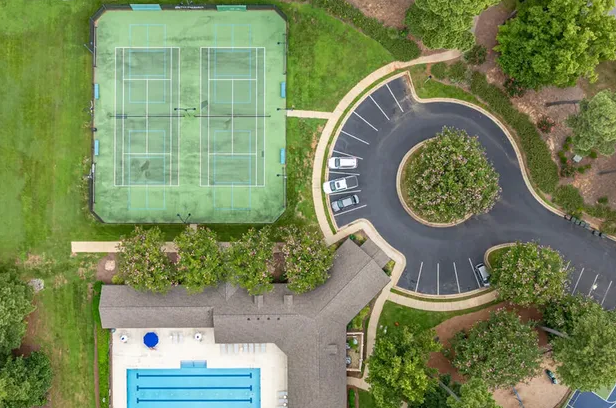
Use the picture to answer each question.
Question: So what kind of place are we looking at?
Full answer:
This looks like a sports ground.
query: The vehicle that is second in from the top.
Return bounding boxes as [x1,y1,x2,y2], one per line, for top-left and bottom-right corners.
[322,177,358,194]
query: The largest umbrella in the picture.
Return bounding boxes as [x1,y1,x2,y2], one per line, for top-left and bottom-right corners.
[144,332,159,348]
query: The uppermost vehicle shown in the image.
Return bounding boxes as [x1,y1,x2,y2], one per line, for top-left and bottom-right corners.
[328,156,357,170]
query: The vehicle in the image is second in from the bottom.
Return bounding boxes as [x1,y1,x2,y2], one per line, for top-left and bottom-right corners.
[331,195,360,212]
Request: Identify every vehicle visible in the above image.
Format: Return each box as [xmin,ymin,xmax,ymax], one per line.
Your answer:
[331,195,360,212]
[475,261,491,287]
[322,177,358,194]
[328,156,357,170]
